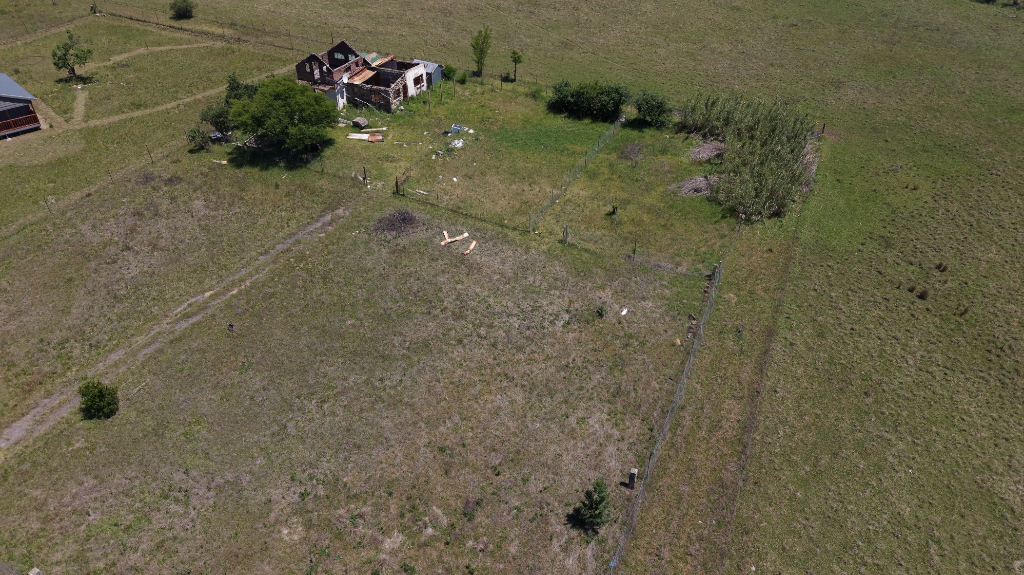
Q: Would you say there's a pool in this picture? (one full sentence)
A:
No, there is no pool in the image.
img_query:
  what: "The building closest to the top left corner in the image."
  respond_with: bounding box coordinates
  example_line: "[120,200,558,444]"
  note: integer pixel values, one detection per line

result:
[0,77,41,135]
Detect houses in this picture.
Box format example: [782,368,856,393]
[0,77,41,135]
[290,39,426,113]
